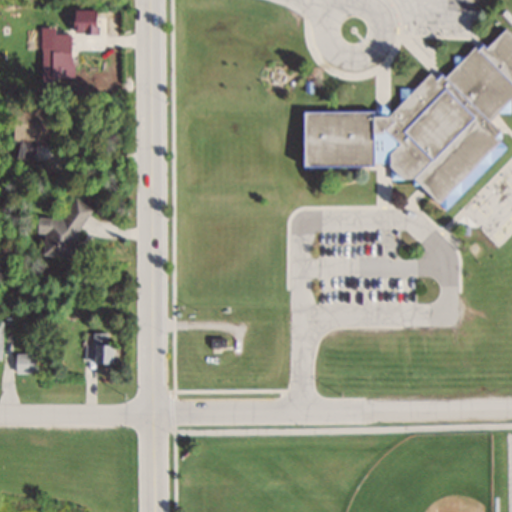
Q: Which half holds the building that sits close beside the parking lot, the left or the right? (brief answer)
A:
right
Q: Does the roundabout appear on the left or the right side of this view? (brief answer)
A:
right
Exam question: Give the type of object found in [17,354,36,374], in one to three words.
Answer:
building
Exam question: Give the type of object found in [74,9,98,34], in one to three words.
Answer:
building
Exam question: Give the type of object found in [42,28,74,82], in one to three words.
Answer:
house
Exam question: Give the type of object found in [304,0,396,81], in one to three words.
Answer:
roundabout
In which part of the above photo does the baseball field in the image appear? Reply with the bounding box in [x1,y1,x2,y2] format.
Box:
[346,434,494,512]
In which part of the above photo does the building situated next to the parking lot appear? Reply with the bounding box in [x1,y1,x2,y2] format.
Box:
[304,30,512,210]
